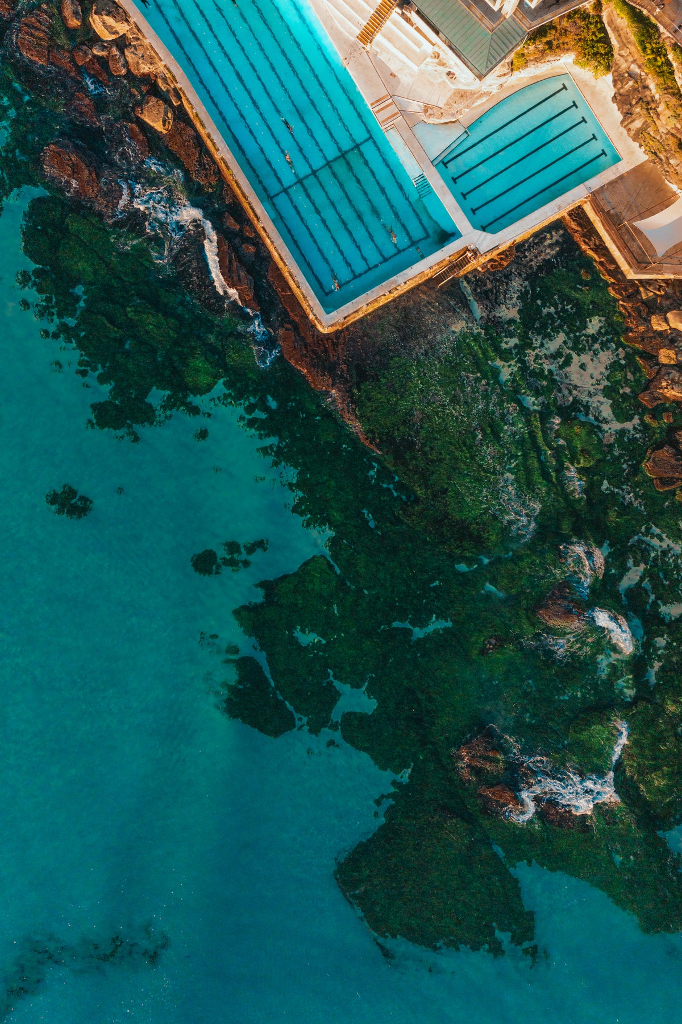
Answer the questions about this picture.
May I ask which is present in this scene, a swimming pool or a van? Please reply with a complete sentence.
The image shows a swimming pool.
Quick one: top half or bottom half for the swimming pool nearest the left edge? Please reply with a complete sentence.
The swimming pool nearest the left edge sits in the top half of the picture.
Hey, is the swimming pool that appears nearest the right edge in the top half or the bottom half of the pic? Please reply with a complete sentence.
You can find the swimming pool that appears nearest the right edge in the top half.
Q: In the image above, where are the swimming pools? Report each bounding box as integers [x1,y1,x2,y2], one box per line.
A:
[115,0,471,334]
[398,59,648,261]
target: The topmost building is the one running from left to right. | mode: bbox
[406,0,594,81]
